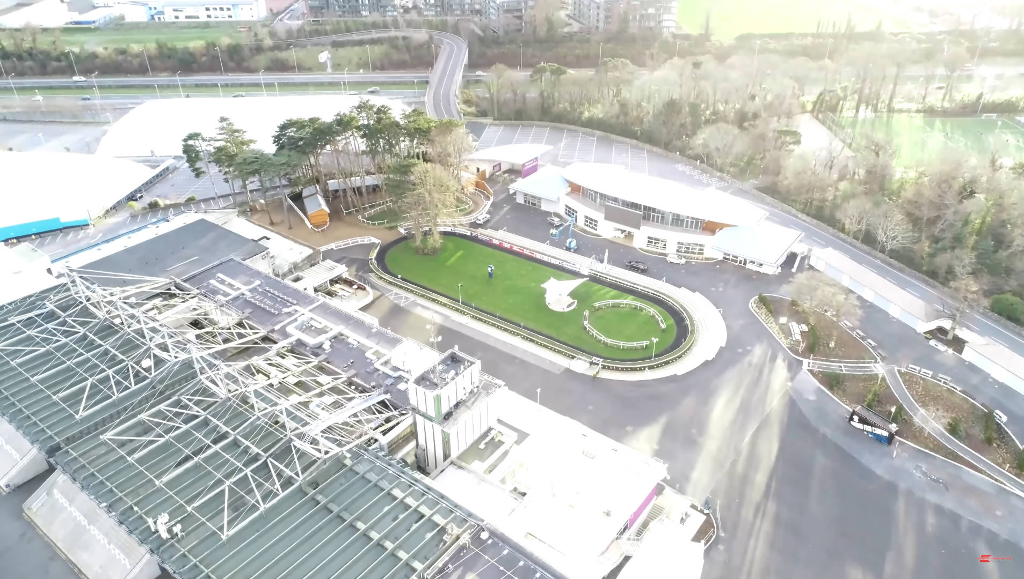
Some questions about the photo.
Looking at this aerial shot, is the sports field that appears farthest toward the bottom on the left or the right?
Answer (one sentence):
You can find the sports field that appears farthest toward the bottom on the right side of the picture.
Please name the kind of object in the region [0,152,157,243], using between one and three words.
building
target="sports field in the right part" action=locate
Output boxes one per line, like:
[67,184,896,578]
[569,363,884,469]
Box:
[831,116,1024,177]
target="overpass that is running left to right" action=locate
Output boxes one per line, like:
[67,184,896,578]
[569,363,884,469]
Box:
[210,27,471,128]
